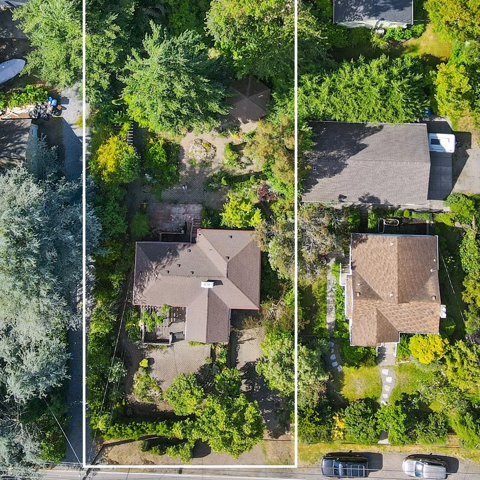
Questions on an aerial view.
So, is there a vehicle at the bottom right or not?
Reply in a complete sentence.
Yes, the scene does show a vehicle at the bottom right.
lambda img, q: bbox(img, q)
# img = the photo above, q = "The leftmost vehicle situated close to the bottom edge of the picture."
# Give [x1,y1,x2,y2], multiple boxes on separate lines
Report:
[320,454,369,480]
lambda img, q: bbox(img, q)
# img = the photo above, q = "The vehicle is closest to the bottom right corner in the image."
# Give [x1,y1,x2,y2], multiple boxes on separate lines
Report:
[401,455,448,480]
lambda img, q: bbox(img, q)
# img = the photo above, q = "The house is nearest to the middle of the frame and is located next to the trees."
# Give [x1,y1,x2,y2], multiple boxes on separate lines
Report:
[132,228,262,344]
